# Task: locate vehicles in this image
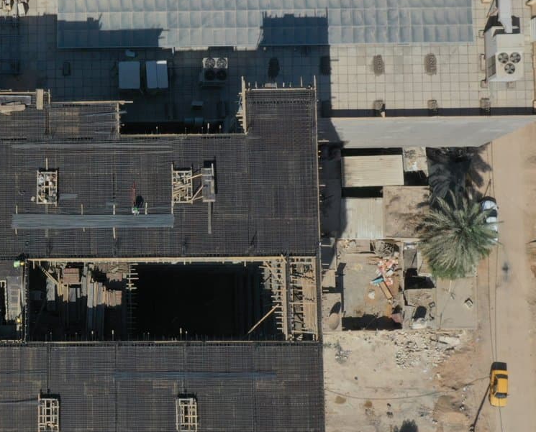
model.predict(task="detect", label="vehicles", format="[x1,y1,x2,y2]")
[479,197,501,237]
[488,364,511,407]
